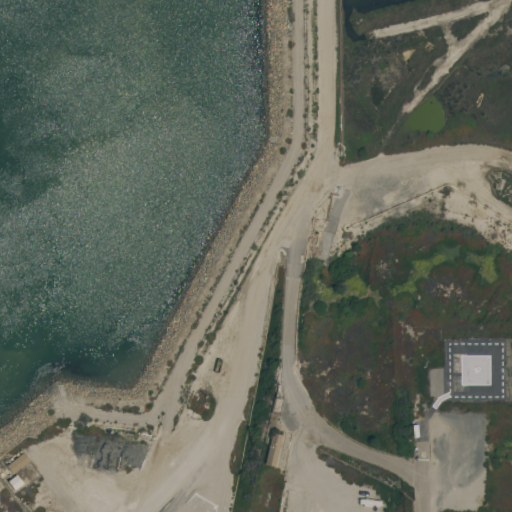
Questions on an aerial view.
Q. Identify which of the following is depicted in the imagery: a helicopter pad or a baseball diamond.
helicopter pad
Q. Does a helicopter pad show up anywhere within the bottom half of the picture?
Yes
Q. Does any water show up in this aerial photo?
Yes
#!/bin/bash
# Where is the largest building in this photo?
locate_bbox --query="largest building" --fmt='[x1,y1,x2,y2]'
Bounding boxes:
[266,434,284,468]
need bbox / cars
[6,456,15,464]
[359,491,369,496]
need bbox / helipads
[444,340,506,400]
